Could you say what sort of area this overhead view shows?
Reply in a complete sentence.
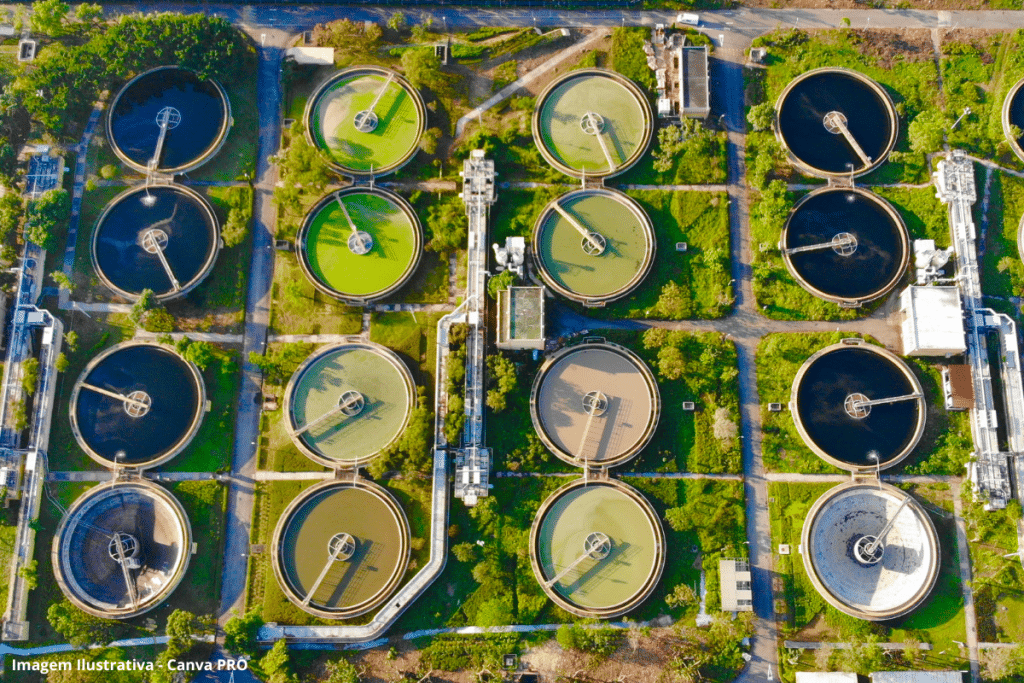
This looks like an industrial area.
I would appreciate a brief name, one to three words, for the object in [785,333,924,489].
storage tank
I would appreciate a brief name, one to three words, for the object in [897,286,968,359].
building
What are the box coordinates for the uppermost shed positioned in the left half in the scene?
[290,47,337,71]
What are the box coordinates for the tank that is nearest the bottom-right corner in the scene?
[795,468,941,619]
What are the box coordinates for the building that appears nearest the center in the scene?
[497,285,548,350]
